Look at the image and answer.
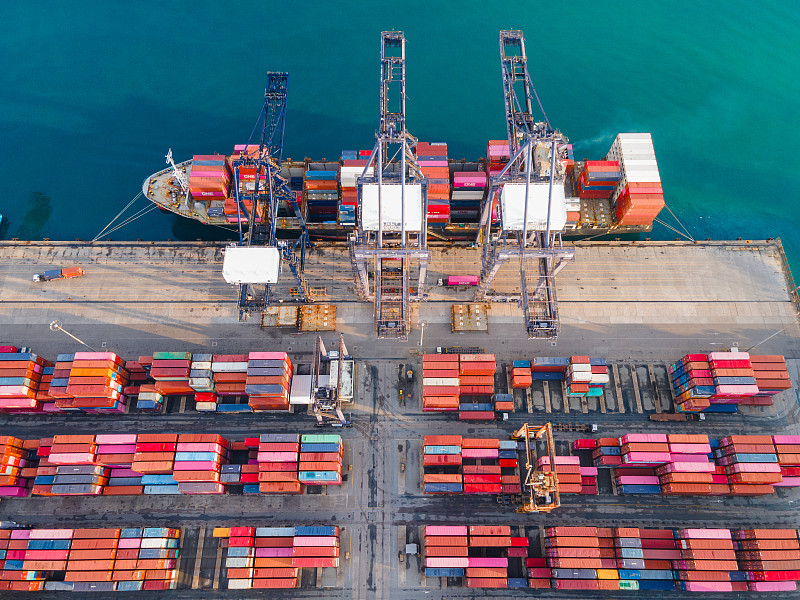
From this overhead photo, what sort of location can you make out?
port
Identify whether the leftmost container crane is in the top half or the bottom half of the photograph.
top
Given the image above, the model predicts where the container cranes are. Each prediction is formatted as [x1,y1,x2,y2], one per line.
[466,29,580,338]
[347,29,438,338]
[513,422,561,516]
[309,336,351,427]
[216,74,321,321]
